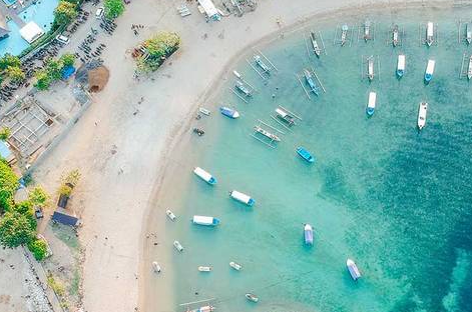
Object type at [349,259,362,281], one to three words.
boat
